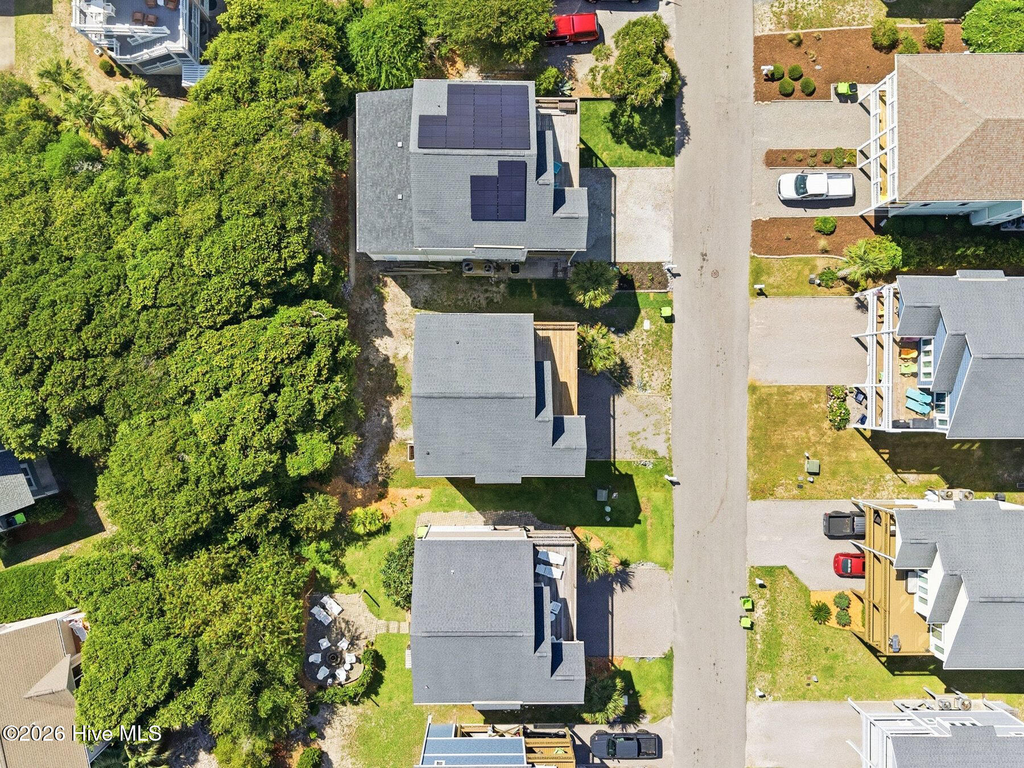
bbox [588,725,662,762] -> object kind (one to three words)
truck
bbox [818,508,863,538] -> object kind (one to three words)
truck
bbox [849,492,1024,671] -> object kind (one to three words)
house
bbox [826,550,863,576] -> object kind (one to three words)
car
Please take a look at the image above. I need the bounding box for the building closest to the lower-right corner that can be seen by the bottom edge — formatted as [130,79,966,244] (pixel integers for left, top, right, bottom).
[846,695,1024,768]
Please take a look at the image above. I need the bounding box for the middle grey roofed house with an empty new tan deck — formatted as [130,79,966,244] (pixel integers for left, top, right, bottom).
[412,313,587,484]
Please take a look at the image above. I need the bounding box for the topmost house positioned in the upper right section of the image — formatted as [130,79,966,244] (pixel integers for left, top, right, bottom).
[856,53,1024,228]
